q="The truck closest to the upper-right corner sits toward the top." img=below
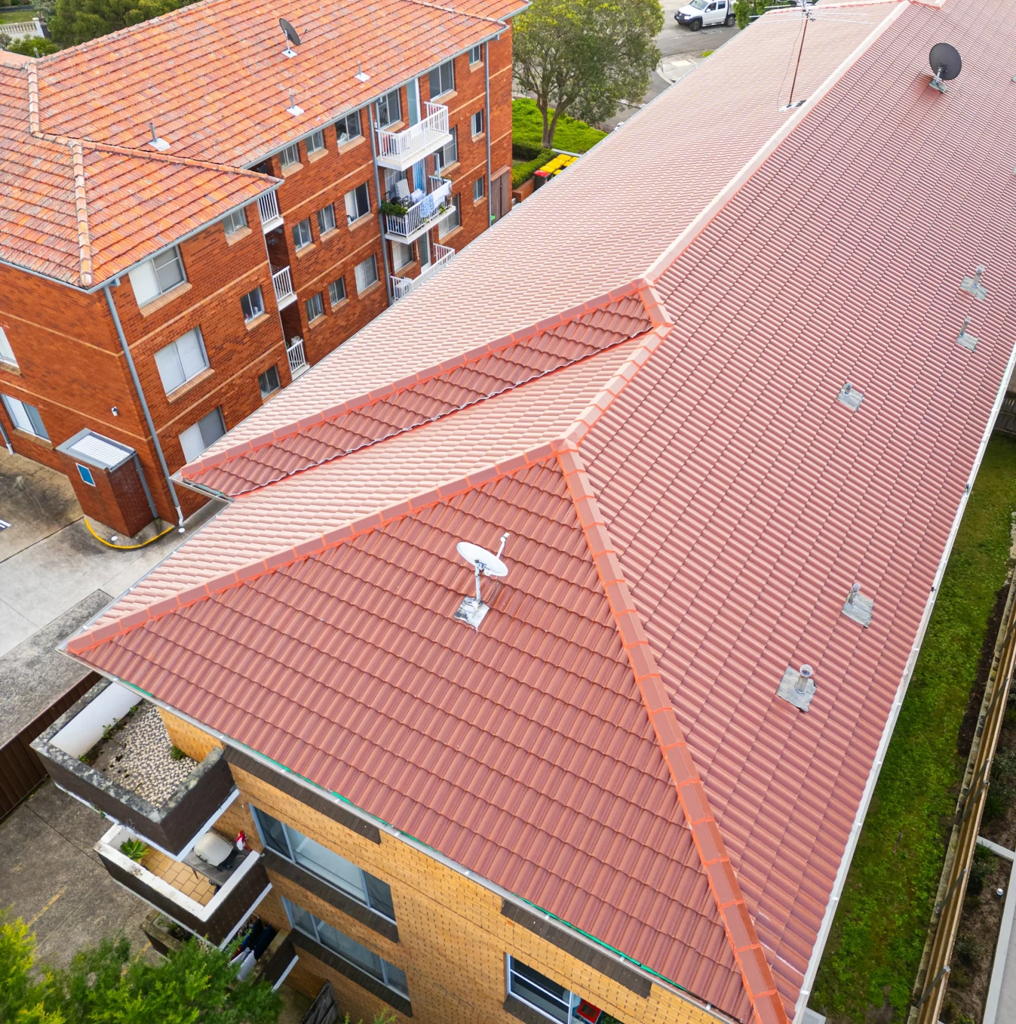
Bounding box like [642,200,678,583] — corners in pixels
[675,0,741,31]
